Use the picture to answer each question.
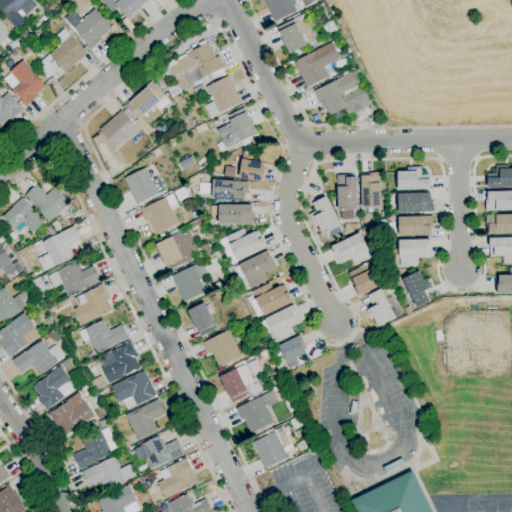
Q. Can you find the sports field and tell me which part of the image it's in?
bottom right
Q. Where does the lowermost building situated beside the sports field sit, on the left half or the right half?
right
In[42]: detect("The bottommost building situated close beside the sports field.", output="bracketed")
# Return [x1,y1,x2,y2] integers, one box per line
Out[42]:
[352,472,430,512]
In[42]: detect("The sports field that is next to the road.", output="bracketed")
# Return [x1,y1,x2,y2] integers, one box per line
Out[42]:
[392,298,512,496]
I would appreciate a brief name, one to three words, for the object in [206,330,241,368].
house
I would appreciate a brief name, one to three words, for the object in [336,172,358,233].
house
